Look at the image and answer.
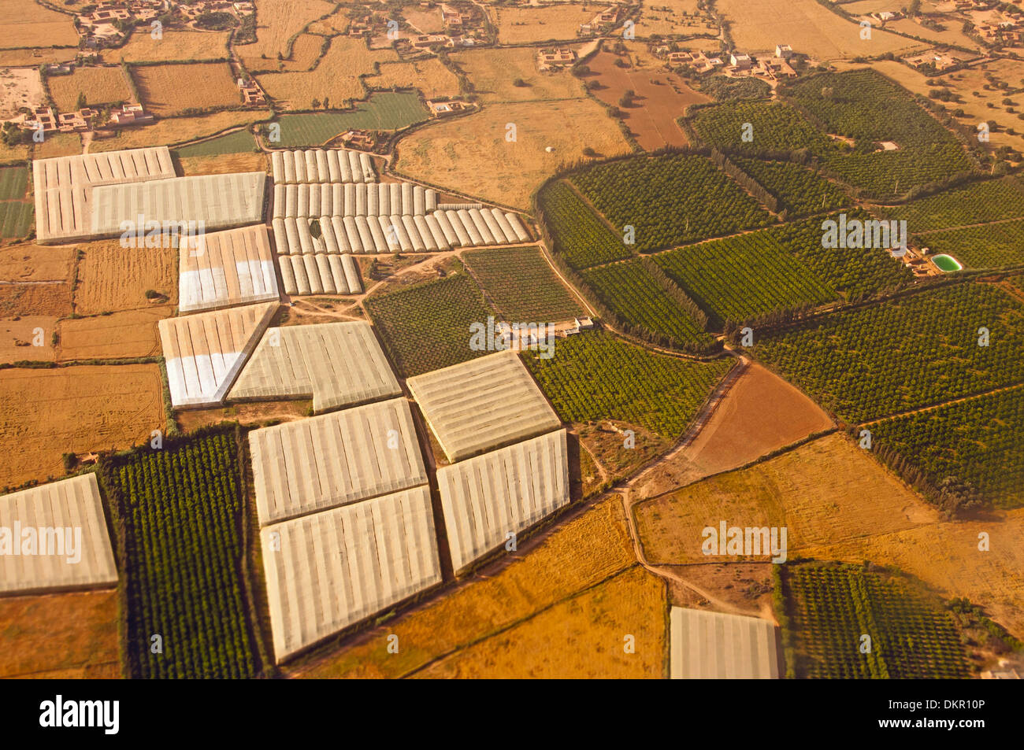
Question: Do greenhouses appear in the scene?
Yes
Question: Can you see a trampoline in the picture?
No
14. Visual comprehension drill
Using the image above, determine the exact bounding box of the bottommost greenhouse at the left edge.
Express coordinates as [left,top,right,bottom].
[0,473,120,601]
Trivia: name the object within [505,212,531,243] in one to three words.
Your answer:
greenhouse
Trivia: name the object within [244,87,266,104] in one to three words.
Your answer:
house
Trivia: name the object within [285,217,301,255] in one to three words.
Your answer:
greenhouse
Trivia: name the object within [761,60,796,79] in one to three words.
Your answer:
house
